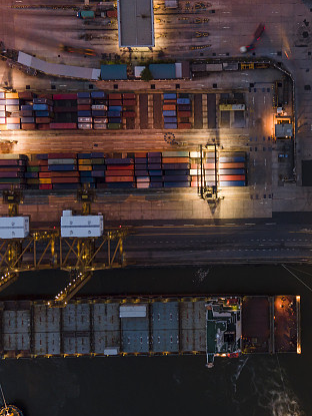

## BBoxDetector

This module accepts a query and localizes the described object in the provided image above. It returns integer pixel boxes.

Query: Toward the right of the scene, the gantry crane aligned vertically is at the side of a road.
[198,140,228,201]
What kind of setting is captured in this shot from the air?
port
